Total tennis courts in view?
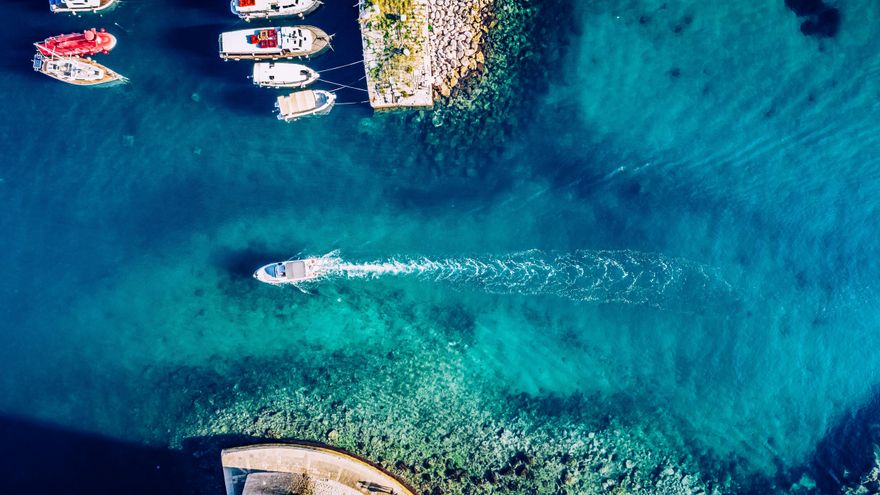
0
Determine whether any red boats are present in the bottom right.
No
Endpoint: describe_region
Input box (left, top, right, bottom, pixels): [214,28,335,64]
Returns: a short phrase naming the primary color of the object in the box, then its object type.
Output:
white boat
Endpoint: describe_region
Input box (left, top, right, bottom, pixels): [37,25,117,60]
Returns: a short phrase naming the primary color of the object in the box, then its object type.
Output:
red boat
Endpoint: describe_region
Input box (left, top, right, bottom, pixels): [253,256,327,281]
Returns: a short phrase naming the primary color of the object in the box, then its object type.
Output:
white boat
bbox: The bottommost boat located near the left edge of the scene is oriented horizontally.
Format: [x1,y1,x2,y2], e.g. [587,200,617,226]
[30,45,129,89]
